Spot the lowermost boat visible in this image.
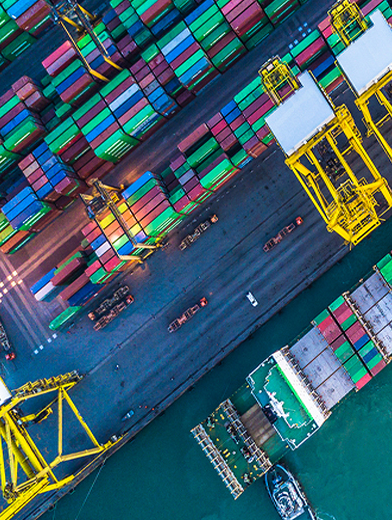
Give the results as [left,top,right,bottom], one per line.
[266,462,314,520]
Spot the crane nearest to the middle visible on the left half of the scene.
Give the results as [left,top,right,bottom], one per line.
[75,173,161,267]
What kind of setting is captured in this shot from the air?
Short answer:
port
